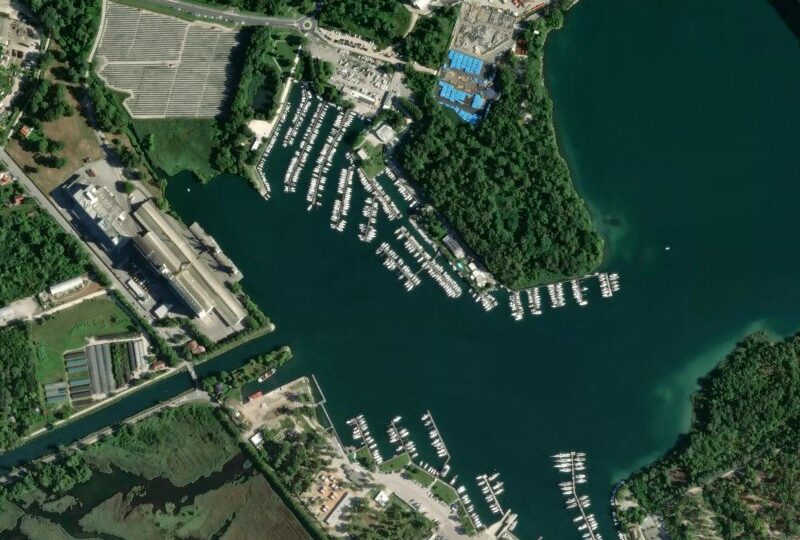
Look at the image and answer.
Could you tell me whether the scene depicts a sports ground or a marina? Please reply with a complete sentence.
This image shows a marina.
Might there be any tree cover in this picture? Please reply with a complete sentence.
Yes, the picture does contain tree cover.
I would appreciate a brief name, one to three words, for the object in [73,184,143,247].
building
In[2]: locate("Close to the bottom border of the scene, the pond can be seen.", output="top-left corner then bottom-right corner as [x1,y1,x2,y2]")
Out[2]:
[0,452,255,540]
